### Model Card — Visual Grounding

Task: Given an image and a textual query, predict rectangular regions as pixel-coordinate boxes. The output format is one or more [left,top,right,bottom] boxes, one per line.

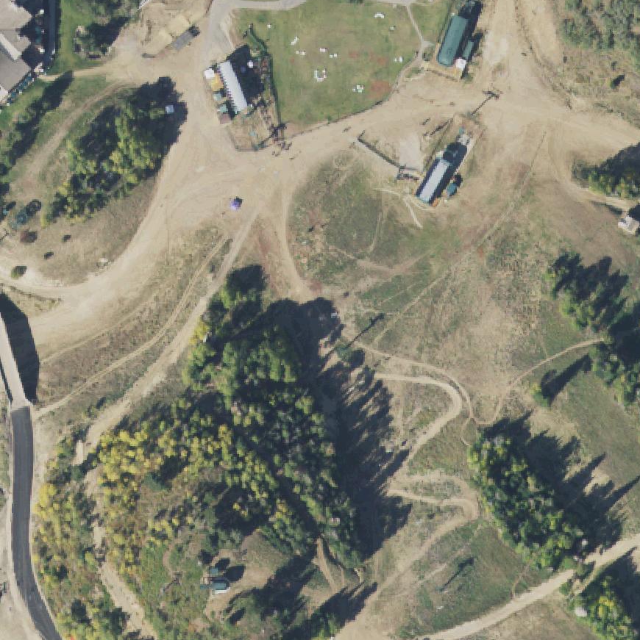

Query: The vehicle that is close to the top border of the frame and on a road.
[174,30,196,48]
